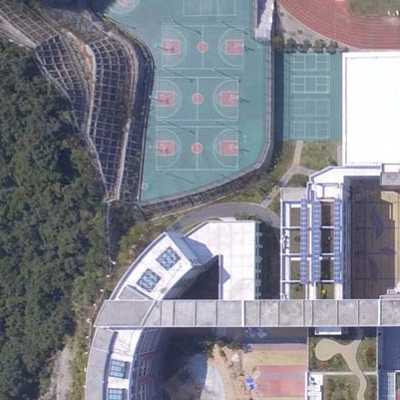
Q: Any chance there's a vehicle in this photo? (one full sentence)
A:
No, I can see no vehicle in this picture.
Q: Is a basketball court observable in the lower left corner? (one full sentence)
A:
No, there's no basketball court to be seen in the lower left corner.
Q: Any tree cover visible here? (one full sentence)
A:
Yes, there's tree cover in this view.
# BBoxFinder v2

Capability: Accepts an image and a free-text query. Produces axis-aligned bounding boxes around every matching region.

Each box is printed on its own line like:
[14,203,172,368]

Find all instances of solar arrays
[312,201,320,282]
[301,199,308,284]
[335,199,340,283]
